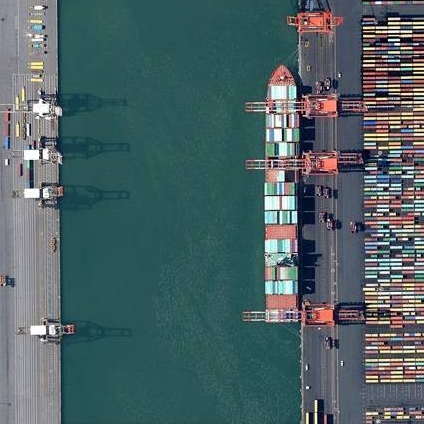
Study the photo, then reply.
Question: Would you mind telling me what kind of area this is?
port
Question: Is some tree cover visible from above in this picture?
No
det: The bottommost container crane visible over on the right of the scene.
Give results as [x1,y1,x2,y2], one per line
[243,302,364,330]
